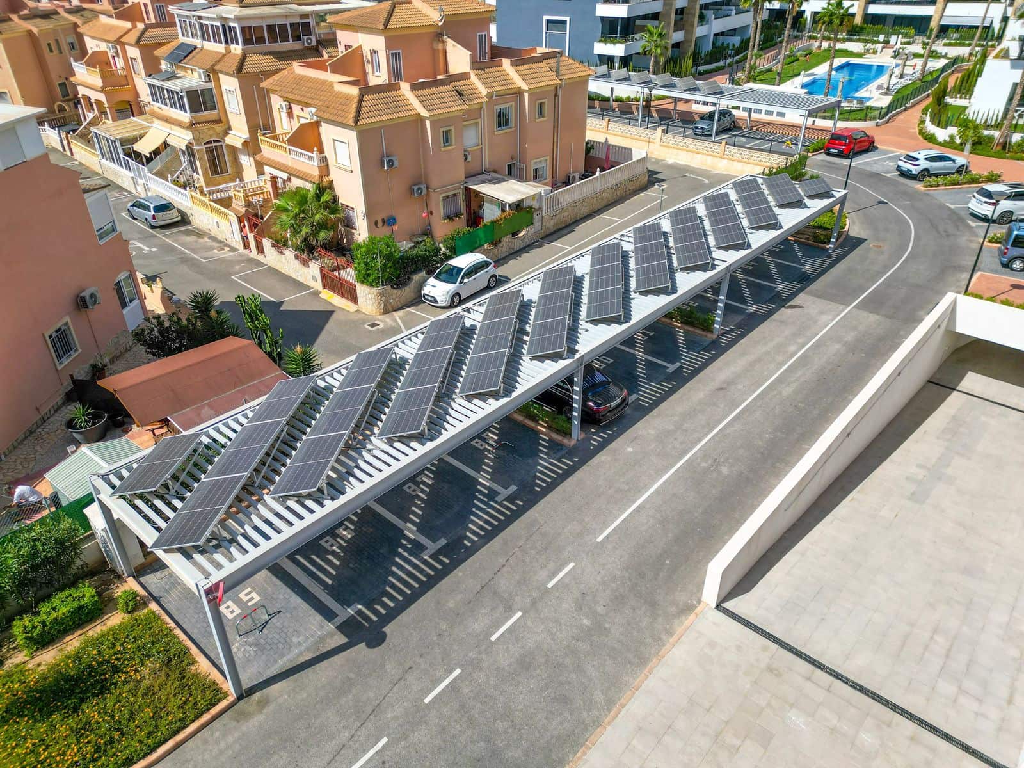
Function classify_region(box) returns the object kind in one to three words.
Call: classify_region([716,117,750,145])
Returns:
car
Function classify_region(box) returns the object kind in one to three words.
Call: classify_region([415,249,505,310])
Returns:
car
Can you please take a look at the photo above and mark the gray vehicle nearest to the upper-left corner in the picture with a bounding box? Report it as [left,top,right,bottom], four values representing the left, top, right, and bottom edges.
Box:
[121,191,190,228]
